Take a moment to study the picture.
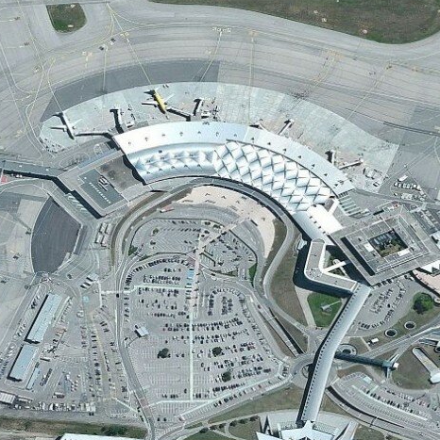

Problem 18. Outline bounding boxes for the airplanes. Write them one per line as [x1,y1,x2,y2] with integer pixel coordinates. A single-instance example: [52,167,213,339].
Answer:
[52,109,78,138]
[147,87,171,114]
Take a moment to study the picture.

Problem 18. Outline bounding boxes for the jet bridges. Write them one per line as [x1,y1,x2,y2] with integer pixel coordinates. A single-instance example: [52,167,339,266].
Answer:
[277,116,296,136]
[192,96,202,121]
[113,104,125,134]
[254,121,268,132]
[338,156,366,171]
[166,105,193,122]
[329,147,335,165]
[75,130,116,142]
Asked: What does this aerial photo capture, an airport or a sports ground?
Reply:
airport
